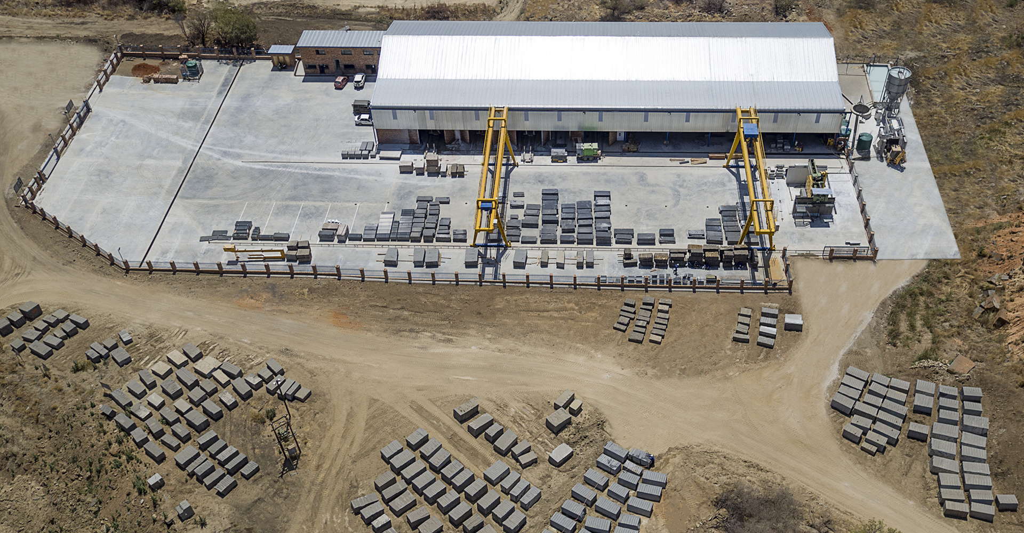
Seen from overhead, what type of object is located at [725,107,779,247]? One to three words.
container crane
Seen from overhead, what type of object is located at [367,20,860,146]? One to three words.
shed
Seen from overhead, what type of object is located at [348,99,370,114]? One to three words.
car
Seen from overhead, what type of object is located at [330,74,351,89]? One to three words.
car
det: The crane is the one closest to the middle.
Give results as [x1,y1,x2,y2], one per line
[470,108,520,247]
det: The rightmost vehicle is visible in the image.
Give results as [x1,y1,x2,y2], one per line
[884,143,904,172]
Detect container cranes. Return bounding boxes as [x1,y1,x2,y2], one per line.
[725,107,779,247]
[470,108,520,247]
